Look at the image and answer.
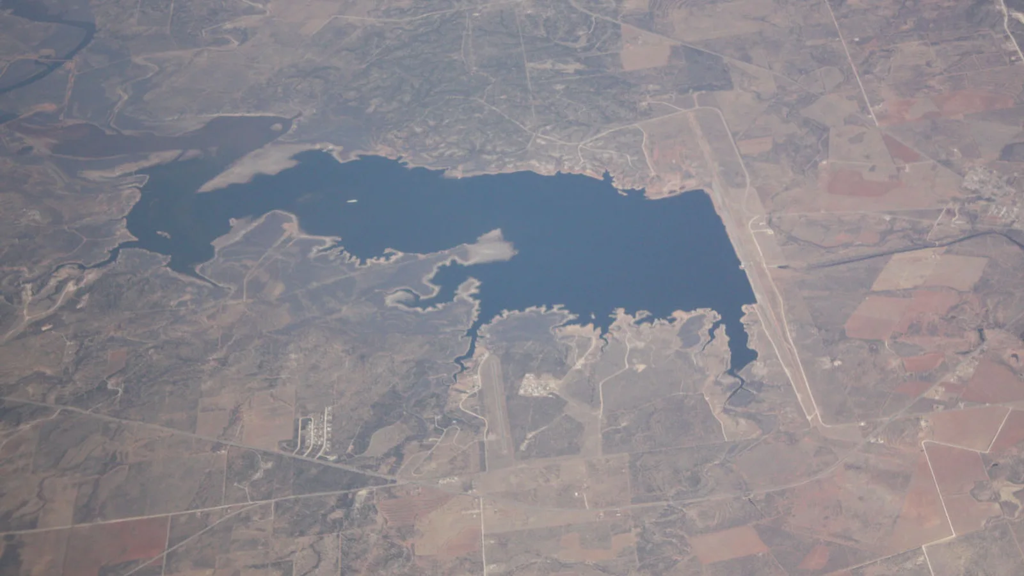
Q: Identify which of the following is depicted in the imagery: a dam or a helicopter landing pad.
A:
dam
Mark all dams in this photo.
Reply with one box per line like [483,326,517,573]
[696,118,814,415]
